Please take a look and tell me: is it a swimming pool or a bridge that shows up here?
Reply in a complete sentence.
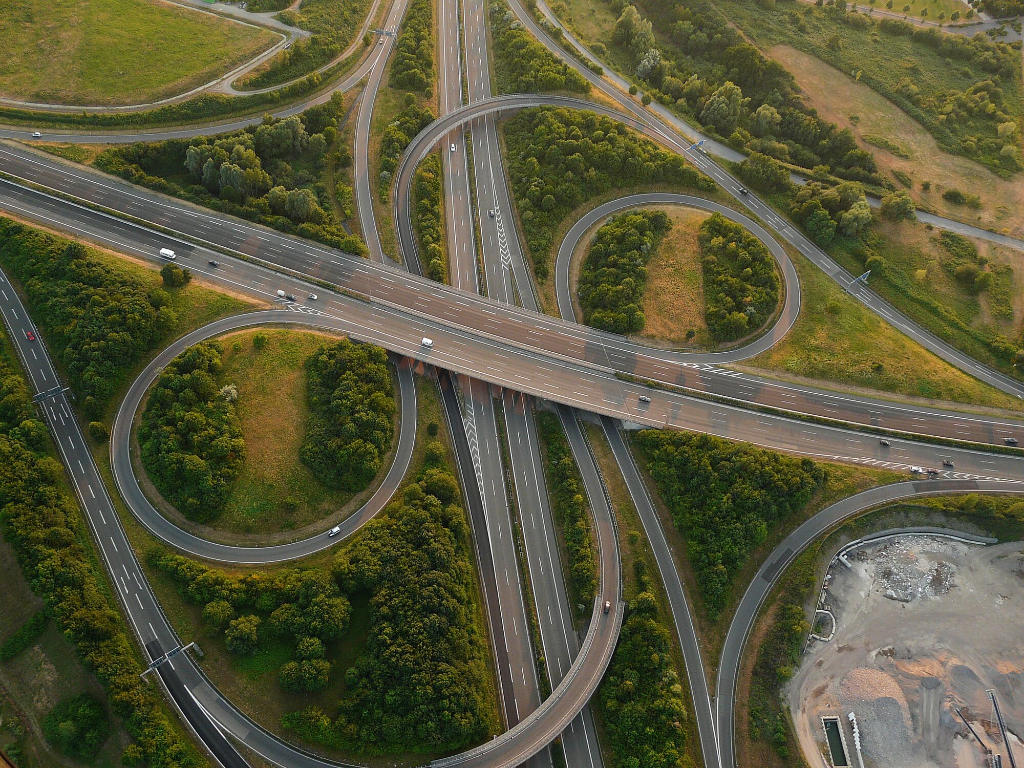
This aerial view contains a bridge.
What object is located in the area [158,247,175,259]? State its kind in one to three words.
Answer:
vehicle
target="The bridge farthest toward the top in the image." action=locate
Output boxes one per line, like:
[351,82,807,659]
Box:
[402,93,541,167]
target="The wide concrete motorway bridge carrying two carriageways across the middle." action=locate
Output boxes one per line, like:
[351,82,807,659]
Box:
[331,249,662,428]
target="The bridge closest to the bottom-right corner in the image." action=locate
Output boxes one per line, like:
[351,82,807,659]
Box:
[417,595,622,768]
